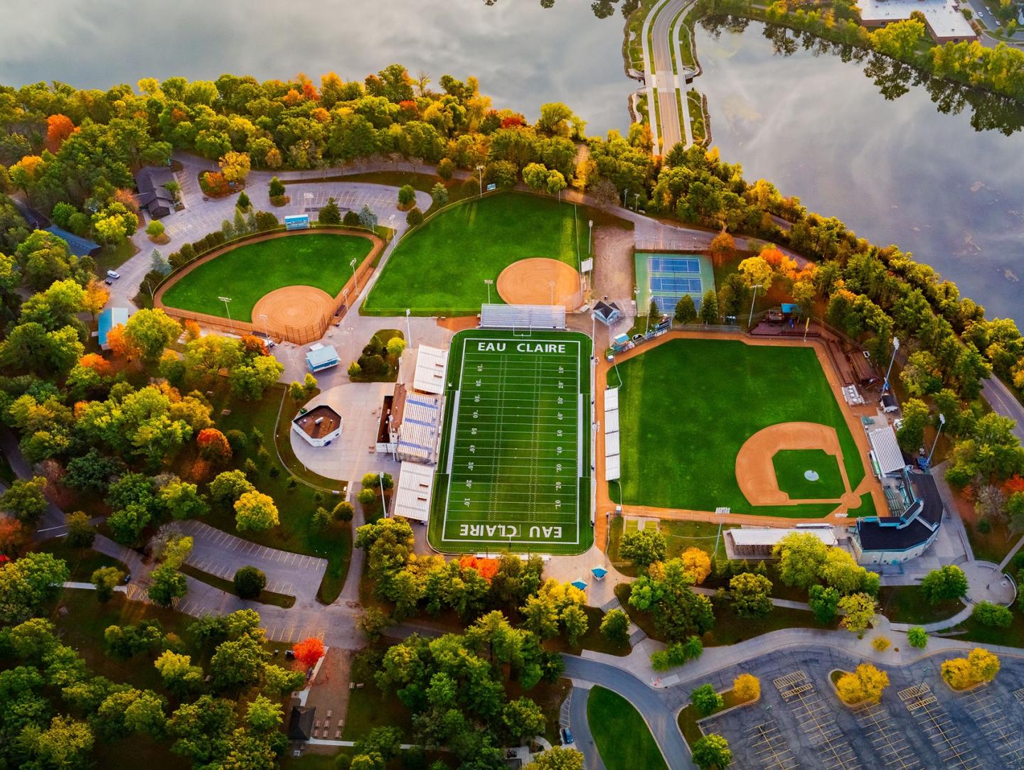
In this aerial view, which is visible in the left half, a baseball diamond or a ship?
baseball diamond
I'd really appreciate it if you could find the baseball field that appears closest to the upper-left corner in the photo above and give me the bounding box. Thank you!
[155,227,385,346]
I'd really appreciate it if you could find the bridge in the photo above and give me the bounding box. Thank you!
[640,68,692,94]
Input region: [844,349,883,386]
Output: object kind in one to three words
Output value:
barn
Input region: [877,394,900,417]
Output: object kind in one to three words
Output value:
shed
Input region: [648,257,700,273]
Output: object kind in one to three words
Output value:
tennis court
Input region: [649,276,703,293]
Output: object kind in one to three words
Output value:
tennis court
